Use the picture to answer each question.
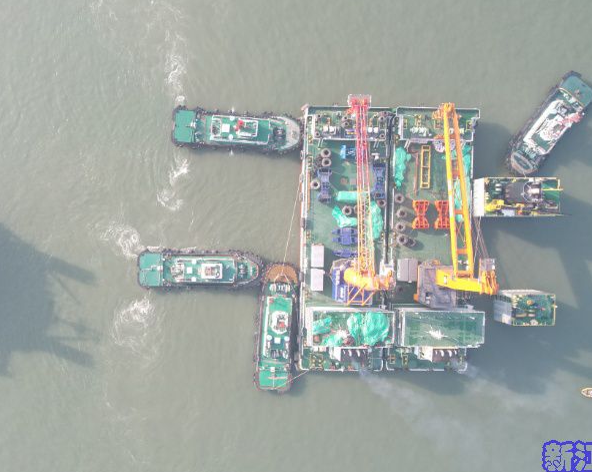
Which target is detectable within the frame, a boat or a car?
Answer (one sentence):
I can see a boat in this picture.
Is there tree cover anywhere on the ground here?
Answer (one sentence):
No, the scene doesn't show any tree cover.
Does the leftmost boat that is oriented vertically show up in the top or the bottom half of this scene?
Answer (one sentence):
Seen from above, the leftmost boat that is oriented vertically lies in the bottom half of the view.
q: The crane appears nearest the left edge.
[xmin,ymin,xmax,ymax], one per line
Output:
[329,91,395,307]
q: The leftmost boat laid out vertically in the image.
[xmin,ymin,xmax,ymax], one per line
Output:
[251,261,302,394]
